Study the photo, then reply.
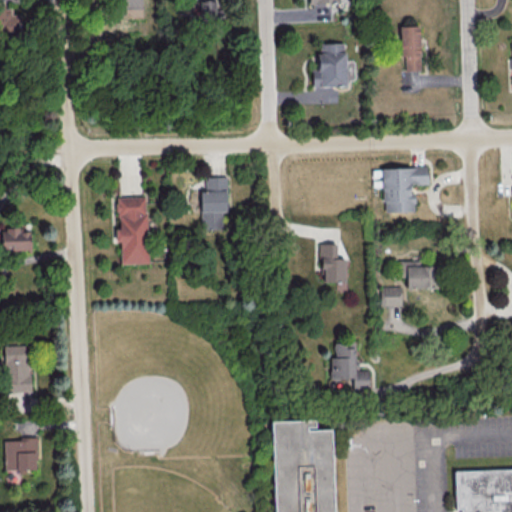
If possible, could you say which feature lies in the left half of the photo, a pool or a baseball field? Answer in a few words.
baseball field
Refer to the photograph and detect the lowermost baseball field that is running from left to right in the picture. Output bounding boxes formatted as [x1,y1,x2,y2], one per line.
[112,465,226,512]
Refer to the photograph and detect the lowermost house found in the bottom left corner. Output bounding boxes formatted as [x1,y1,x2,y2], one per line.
[6,438,38,474]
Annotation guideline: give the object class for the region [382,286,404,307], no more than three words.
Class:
building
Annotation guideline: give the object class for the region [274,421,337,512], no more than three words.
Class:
building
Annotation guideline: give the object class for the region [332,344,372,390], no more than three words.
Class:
house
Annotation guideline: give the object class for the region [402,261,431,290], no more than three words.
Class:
house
